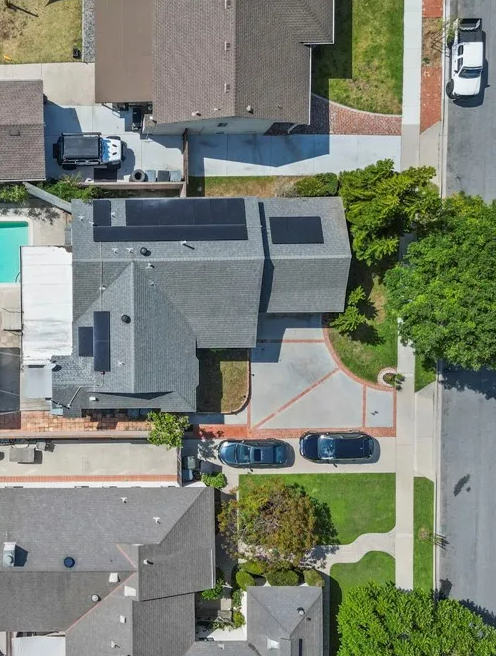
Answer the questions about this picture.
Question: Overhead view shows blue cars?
Yes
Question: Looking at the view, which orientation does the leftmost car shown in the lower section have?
horizontally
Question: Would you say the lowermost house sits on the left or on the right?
left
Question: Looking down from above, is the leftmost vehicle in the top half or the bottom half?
top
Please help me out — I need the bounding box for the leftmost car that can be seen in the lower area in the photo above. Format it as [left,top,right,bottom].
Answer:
[217,439,290,471]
